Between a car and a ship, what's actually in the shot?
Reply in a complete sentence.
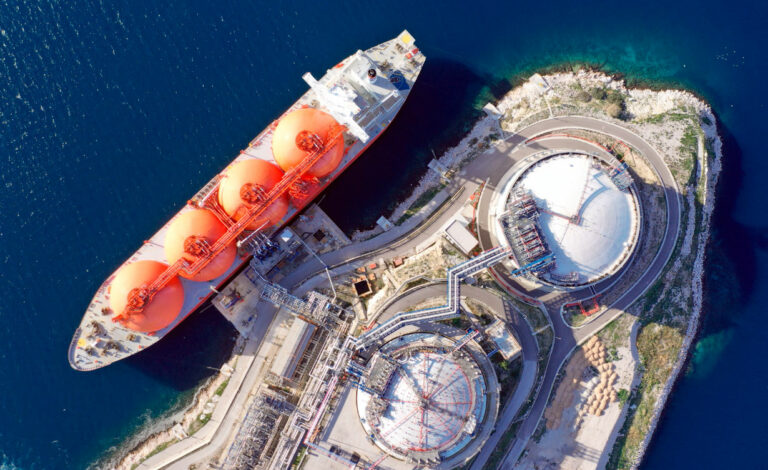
I can see a ship in this picture.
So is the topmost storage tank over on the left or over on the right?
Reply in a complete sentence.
It is on the right.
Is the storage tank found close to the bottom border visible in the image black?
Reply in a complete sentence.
No, the storage tank found close to the bottom border is white.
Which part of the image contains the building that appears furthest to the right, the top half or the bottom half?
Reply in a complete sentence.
The building that appears furthest to the right sits in the bottom half of the picture.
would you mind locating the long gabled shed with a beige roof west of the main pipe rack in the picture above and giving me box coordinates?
[268,315,316,380]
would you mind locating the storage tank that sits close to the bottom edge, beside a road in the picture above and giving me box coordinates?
[357,317,503,470]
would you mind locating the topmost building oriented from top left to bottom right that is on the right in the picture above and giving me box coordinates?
[444,220,478,253]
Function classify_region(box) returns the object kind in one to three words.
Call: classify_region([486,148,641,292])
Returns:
storage tank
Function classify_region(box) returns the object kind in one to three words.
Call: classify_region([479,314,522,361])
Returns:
building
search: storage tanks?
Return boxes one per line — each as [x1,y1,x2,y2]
[357,317,503,470]
[486,148,641,292]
